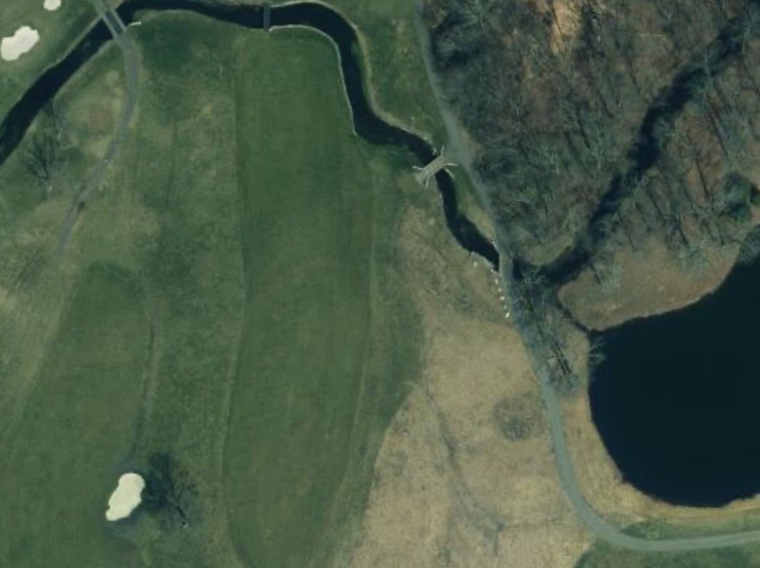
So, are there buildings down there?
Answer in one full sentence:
No, the photo shows no building.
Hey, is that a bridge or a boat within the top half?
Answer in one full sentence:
The one visible within the top half is a bridge.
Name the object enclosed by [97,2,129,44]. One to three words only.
bridge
